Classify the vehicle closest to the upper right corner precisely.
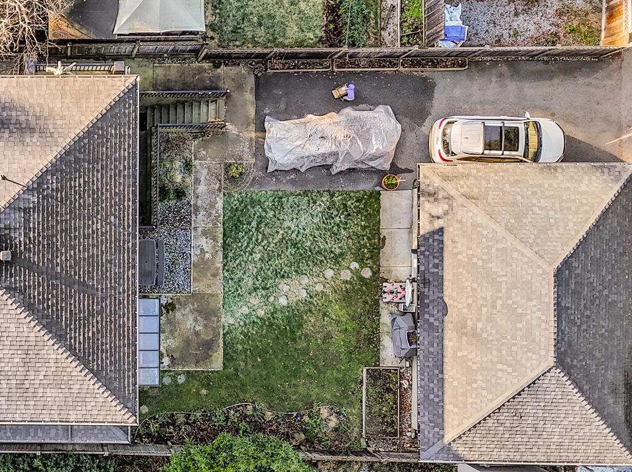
automobile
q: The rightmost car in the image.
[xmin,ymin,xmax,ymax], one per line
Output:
[428,108,564,161]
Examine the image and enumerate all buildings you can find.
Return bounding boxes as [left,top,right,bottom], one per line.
[413,161,632,466]
[0,50,142,444]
